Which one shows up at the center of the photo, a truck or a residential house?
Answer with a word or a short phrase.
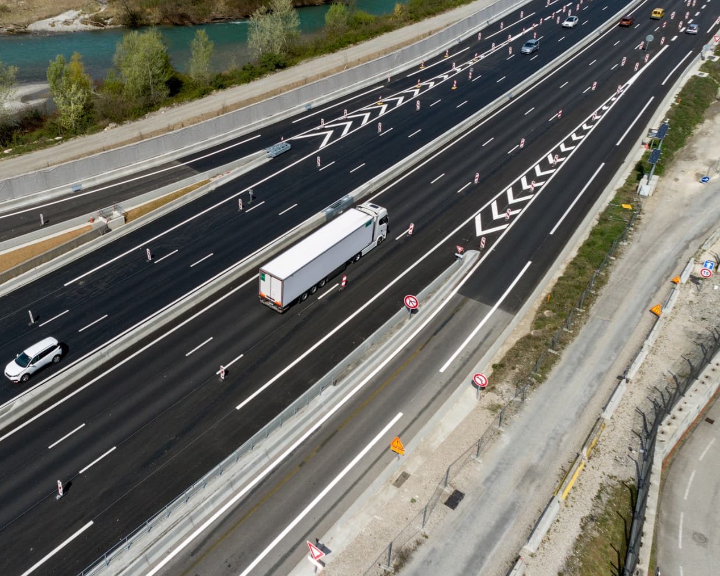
truck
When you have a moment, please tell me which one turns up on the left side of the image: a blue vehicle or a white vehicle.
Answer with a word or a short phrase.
white vehicle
